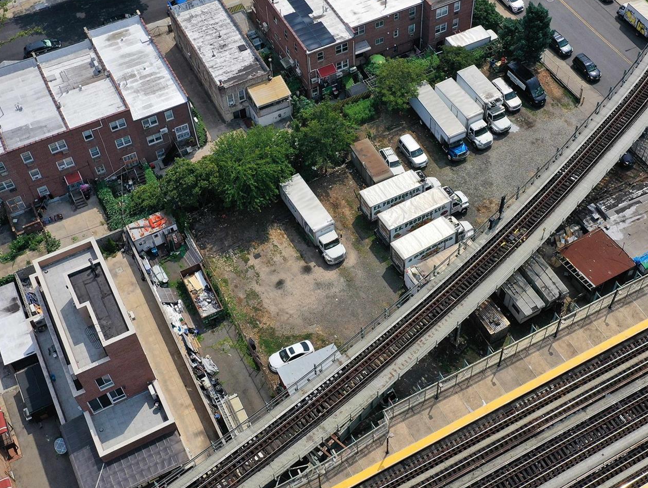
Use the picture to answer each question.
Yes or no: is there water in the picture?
No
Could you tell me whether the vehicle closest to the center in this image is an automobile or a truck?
truck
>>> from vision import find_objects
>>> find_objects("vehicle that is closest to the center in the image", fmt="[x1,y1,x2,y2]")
[280,175,350,268]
